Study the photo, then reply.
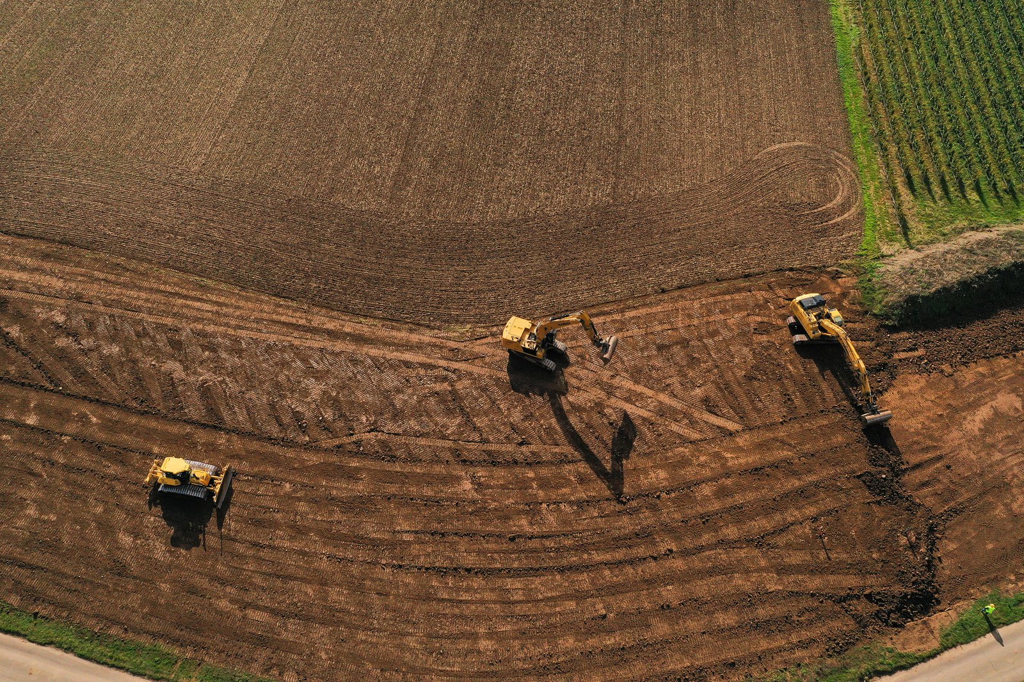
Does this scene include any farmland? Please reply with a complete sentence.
Yes, there's farmland in this view.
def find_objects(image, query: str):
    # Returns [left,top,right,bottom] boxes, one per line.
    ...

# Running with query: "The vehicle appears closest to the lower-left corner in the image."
[145,455,235,511]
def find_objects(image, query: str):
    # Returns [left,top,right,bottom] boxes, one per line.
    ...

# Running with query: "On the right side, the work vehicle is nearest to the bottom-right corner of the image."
[789,296,898,423]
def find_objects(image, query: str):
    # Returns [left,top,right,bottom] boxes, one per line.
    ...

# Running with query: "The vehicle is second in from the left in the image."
[506,309,619,371]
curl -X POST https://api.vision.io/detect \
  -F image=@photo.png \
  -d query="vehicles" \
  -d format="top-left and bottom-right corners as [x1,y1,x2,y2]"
[145,455,235,511]
[789,296,898,423]
[506,309,619,371]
